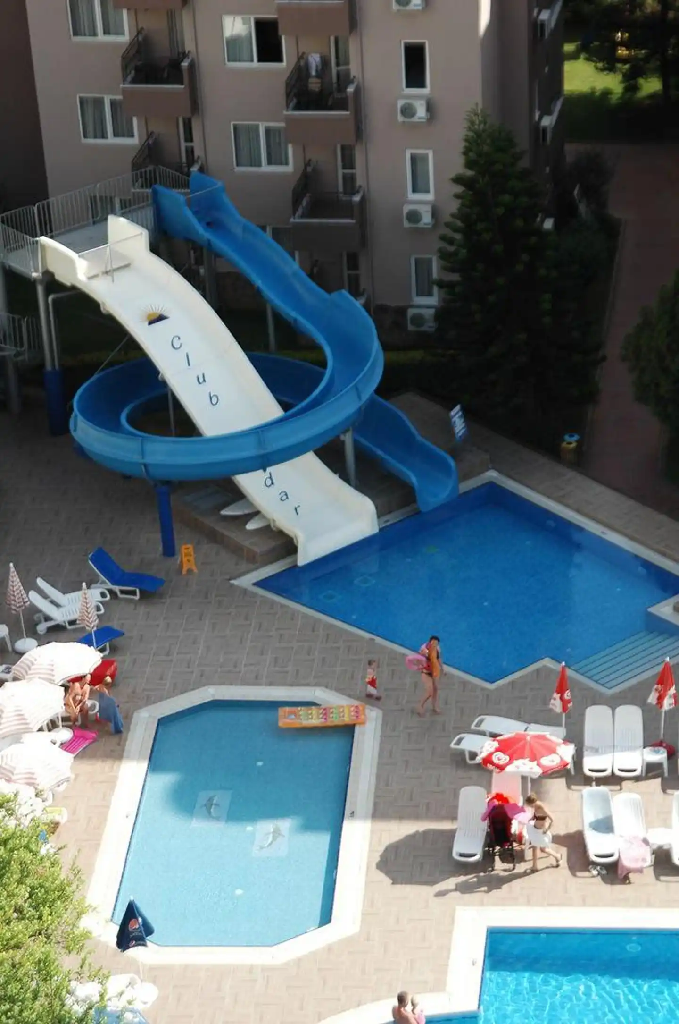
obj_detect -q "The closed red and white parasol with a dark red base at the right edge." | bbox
[651,653,678,759]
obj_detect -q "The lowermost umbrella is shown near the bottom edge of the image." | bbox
[109,894,156,1003]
